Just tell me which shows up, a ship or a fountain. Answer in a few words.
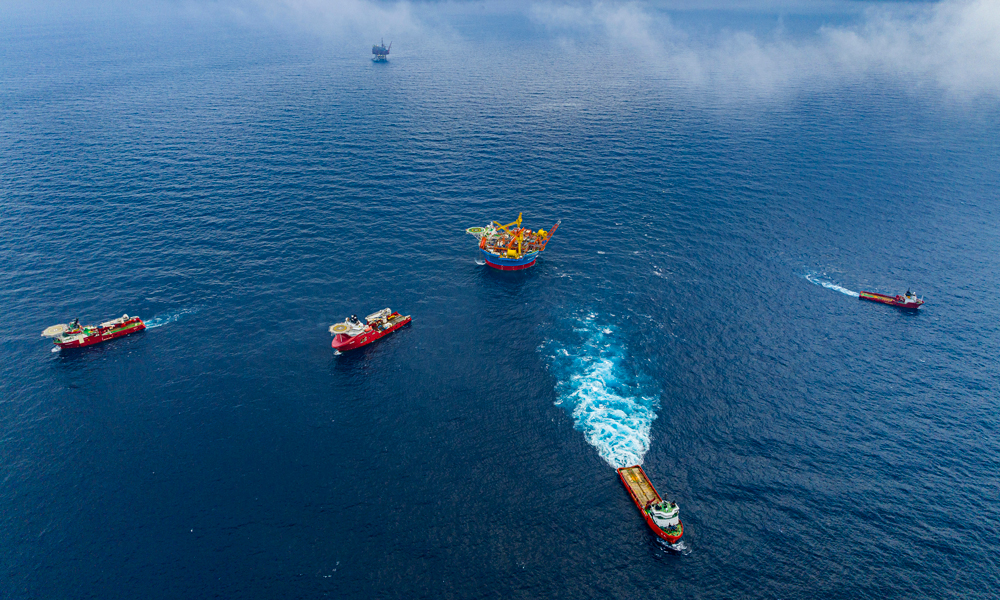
ship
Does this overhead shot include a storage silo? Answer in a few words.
No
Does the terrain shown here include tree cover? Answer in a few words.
No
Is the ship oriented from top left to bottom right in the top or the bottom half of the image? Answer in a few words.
bottom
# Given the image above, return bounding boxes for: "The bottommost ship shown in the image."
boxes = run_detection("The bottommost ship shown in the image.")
[618,466,680,541]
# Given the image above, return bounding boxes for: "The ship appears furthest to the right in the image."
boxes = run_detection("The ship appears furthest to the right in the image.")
[859,285,924,309]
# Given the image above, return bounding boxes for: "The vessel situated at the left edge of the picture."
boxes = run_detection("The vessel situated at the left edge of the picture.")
[41,315,145,348]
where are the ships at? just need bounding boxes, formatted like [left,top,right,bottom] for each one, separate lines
[618,466,680,541]
[330,308,410,351]
[41,315,145,348]
[859,285,924,309]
